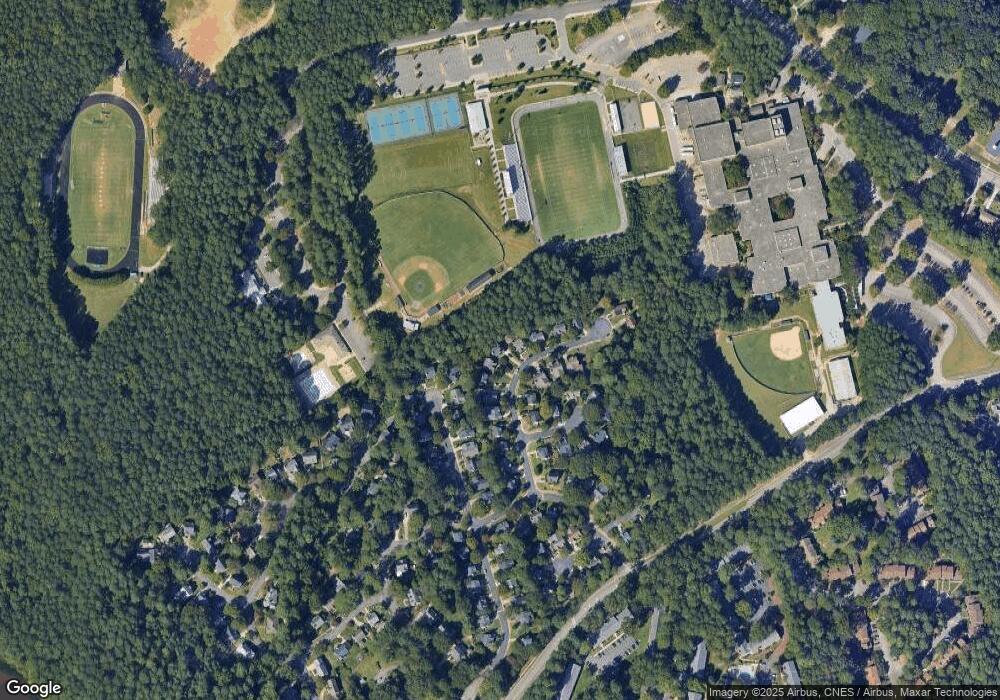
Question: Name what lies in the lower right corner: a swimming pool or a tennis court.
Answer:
swimming pool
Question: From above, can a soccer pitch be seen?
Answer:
Yes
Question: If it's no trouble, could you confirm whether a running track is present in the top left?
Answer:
Yes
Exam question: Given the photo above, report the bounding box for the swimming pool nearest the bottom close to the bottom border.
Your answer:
[729,663,758,685]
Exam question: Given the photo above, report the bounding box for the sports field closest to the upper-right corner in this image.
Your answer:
[615,130,674,176]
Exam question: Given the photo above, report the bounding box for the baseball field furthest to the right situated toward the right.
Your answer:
[731,322,815,394]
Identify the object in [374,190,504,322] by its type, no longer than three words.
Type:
baseball field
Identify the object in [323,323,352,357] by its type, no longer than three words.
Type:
building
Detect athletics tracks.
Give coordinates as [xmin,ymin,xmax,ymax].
[60,93,145,278]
